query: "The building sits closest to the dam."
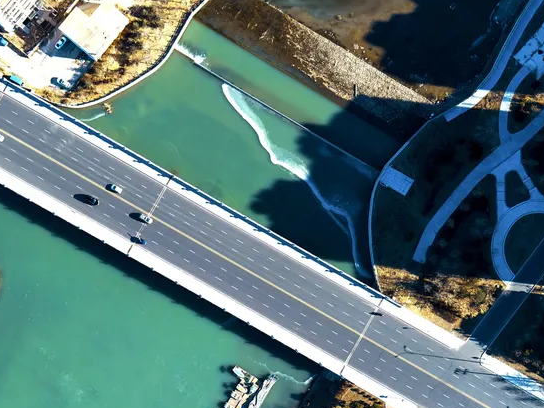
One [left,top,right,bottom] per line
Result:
[59,2,129,67]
